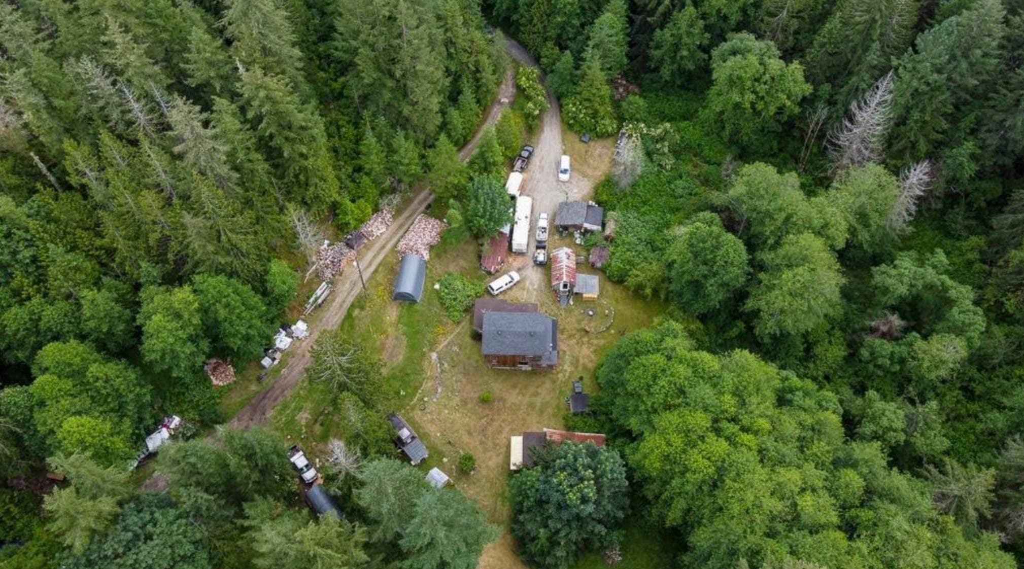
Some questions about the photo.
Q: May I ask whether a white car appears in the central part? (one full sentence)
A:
Yes, a white car appears in the central part.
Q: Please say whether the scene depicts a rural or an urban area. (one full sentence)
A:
The area is rural.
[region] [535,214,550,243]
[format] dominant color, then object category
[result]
white vehicle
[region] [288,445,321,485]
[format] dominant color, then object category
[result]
white truck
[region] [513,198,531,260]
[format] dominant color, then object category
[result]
white trailer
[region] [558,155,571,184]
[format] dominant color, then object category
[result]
white vehicle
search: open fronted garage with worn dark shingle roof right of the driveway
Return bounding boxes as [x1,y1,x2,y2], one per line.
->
[556,202,603,234]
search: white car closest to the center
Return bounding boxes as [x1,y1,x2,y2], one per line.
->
[487,272,522,298]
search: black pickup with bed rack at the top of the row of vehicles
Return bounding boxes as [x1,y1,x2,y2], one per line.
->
[514,146,535,173]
